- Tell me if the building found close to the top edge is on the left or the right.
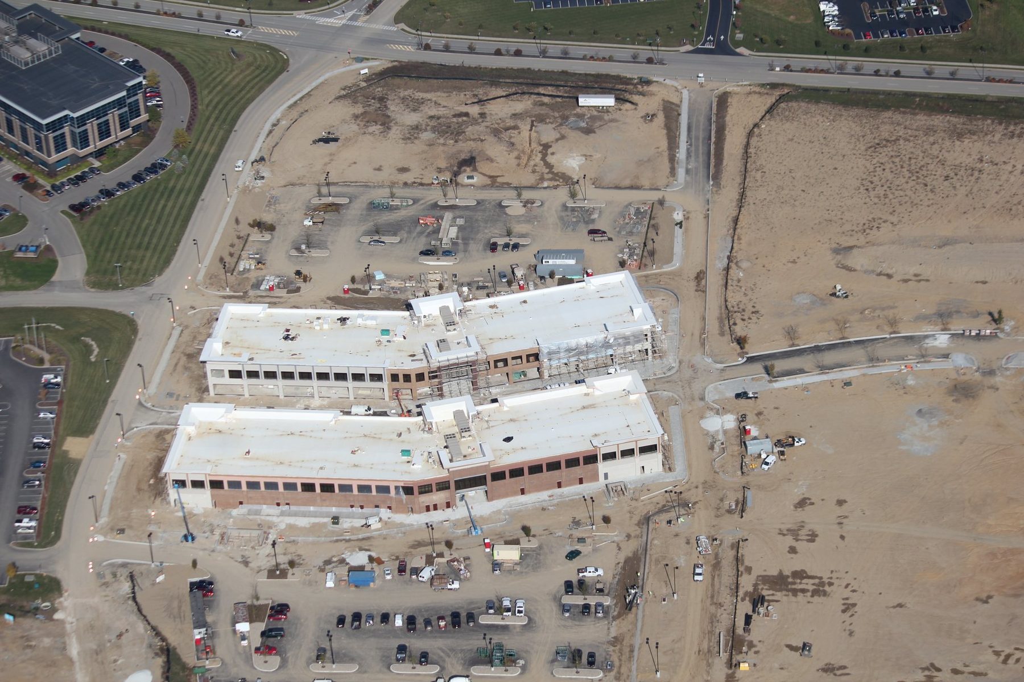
left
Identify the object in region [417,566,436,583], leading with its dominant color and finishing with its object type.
white vehicle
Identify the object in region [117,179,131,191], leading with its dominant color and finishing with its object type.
black vehicle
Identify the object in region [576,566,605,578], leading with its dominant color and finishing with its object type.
white vehicle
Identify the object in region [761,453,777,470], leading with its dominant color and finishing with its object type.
white car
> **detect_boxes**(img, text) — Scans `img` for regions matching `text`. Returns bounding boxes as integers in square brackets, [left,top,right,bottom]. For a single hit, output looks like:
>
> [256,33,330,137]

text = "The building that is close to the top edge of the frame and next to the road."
[0,0,147,167]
